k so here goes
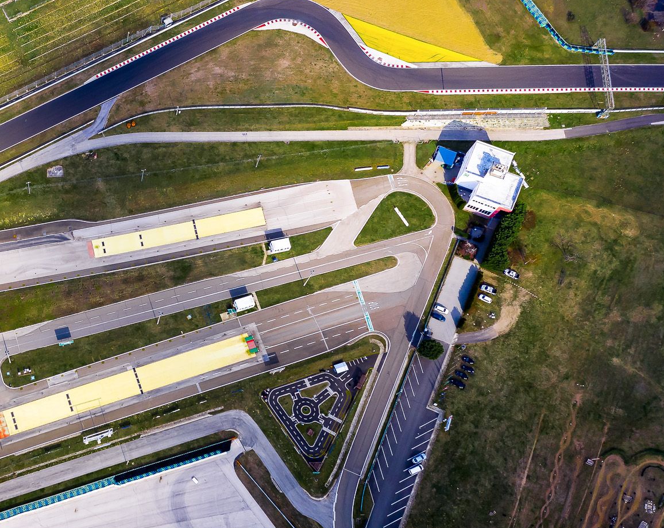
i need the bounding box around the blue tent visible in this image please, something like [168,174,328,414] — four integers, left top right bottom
[432,146,457,169]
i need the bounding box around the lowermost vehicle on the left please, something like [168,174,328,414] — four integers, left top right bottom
[188,474,202,487]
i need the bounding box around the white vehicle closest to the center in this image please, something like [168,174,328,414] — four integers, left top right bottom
[433,303,449,316]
